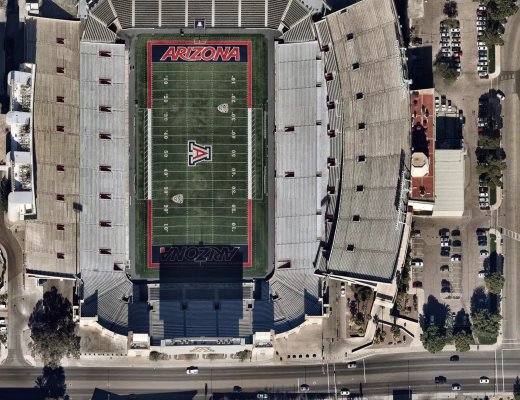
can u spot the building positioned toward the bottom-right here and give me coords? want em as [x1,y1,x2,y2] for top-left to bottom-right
[373,287,396,309]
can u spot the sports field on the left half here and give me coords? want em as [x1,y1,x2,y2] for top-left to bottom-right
[112,25,290,283]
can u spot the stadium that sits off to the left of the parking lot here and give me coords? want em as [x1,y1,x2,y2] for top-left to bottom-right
[18,0,415,355]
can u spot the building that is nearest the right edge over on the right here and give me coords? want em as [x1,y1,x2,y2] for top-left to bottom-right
[435,149,467,216]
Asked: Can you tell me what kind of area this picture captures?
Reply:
sports ground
